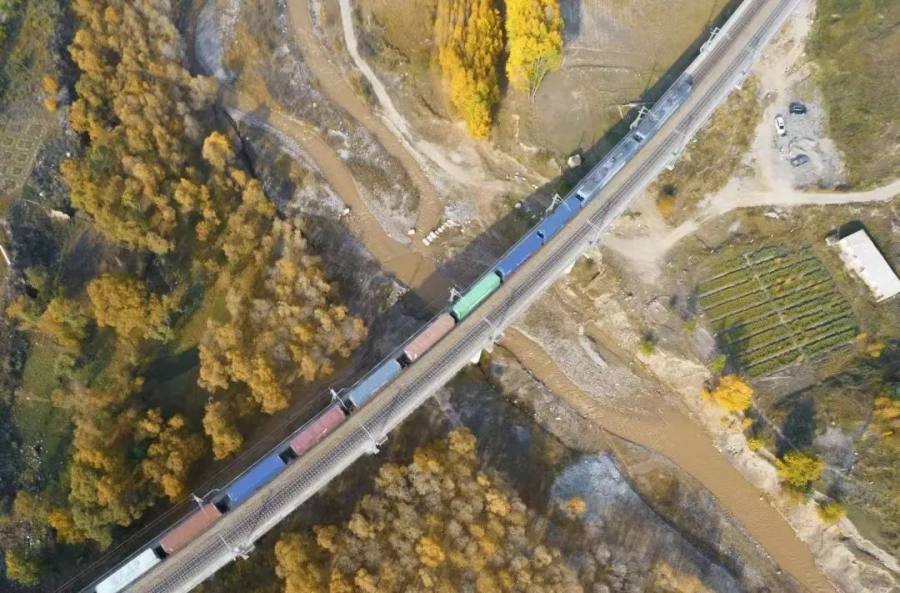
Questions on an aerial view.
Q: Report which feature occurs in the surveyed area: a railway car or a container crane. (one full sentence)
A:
I can see a railway car in this picture.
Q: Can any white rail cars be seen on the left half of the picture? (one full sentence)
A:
Yes, there is a white rail car on the left half of the picture.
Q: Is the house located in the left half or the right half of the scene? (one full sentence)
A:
It is on the right.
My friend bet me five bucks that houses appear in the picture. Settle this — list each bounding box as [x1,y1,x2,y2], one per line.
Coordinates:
[836,231,900,301]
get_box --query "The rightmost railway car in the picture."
[633,78,695,148]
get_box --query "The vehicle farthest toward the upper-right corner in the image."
[787,102,809,114]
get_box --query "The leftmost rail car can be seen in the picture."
[85,544,166,593]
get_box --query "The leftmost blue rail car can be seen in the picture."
[223,448,291,505]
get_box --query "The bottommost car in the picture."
[788,154,810,169]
